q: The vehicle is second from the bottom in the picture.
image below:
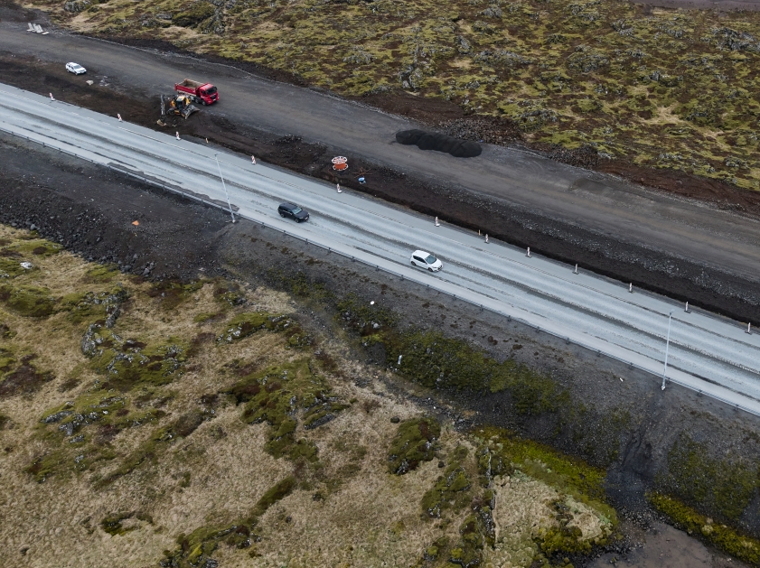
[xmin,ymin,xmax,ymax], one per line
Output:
[276,201,311,222]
